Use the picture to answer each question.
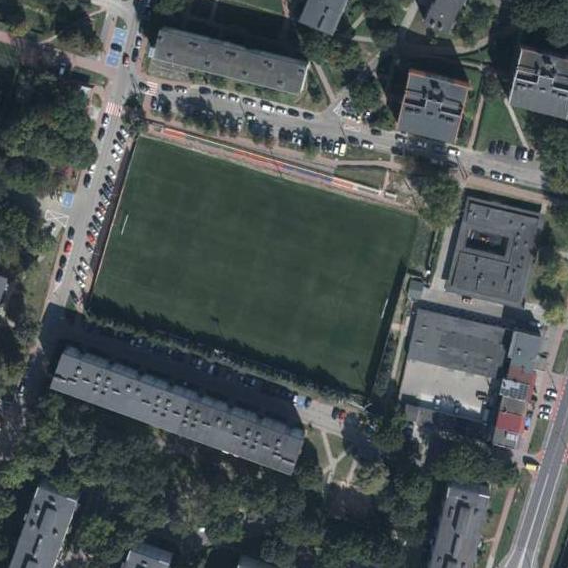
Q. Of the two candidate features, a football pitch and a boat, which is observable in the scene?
football pitch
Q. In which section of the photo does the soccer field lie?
center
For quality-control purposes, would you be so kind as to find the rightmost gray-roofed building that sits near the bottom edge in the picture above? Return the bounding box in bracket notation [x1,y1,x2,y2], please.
[430,485,493,568]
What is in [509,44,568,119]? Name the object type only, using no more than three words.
building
